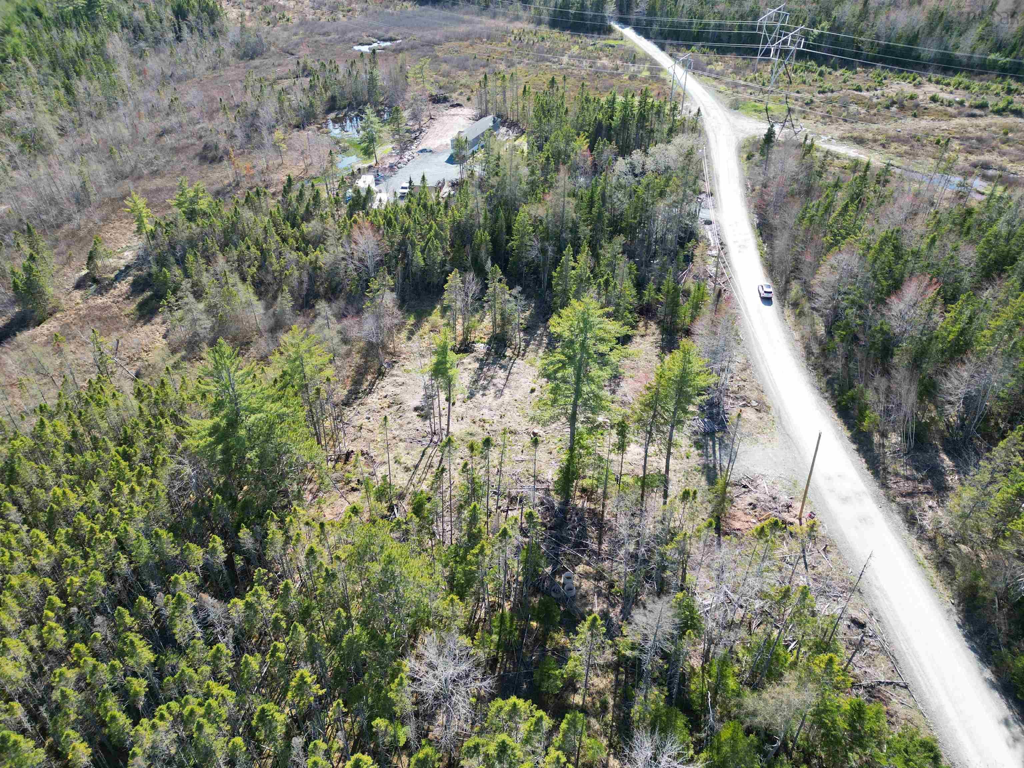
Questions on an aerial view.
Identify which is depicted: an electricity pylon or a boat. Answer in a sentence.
There is an electricity pylon in the scene.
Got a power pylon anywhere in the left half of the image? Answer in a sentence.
No, looking in the left half of the image, there is no power pylon.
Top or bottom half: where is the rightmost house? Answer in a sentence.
It is in the top half that the rightmost house appears.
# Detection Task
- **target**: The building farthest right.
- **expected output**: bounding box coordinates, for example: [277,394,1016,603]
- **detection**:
[436,115,501,157]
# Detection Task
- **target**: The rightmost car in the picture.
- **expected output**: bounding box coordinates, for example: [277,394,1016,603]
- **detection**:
[756,277,775,296]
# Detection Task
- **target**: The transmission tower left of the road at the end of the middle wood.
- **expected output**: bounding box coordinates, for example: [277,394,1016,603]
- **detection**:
[661,49,700,137]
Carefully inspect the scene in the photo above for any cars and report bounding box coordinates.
[756,277,775,296]
[398,179,411,195]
